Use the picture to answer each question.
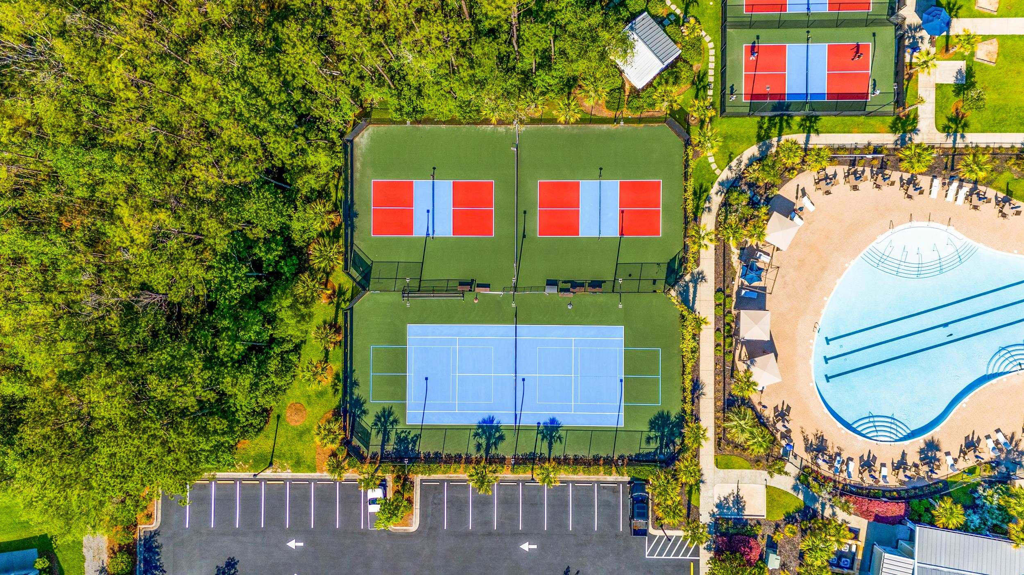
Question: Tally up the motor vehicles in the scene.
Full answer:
There are 2 motor vehicles in the image.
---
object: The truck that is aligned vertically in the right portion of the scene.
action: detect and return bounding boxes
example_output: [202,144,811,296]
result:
[628,481,652,539]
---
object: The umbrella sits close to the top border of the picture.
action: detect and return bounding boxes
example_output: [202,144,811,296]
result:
[920,8,948,36]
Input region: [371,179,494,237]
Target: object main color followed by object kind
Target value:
red sports court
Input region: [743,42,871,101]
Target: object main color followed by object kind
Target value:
red sports court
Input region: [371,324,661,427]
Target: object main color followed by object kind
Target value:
blue tennis court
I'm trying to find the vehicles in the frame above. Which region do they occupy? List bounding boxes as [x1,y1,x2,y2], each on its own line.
[628,481,652,539]
[363,482,387,532]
